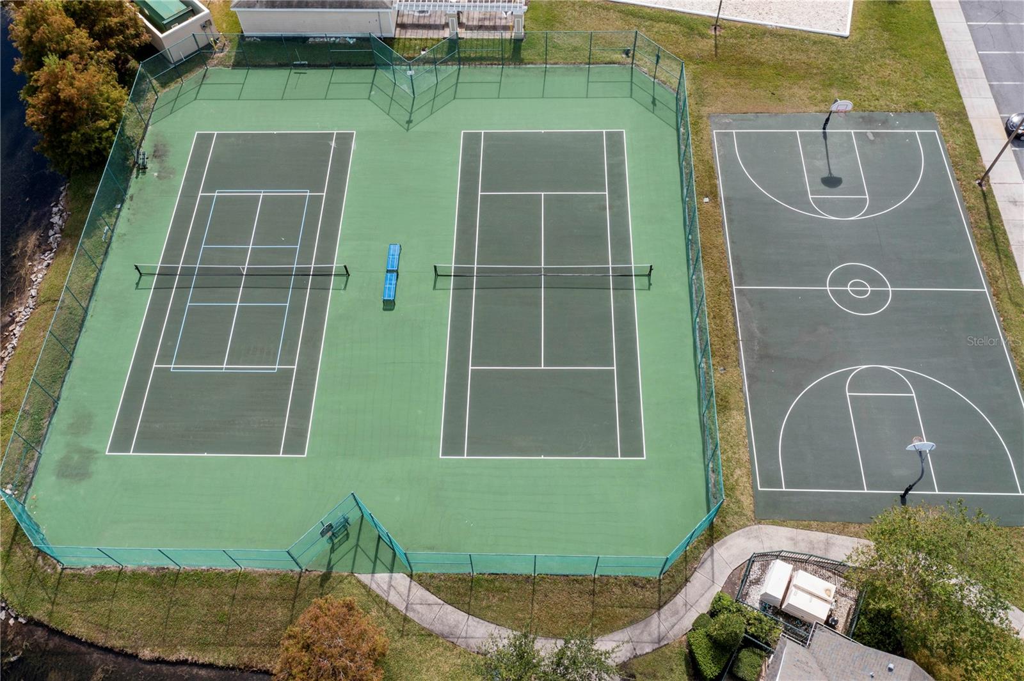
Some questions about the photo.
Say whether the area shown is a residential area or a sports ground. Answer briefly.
sports ground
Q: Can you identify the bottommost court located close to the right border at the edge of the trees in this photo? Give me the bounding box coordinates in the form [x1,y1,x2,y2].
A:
[710,113,1024,523]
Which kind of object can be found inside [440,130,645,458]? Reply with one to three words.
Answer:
tennis court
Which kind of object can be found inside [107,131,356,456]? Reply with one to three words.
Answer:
tennis court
